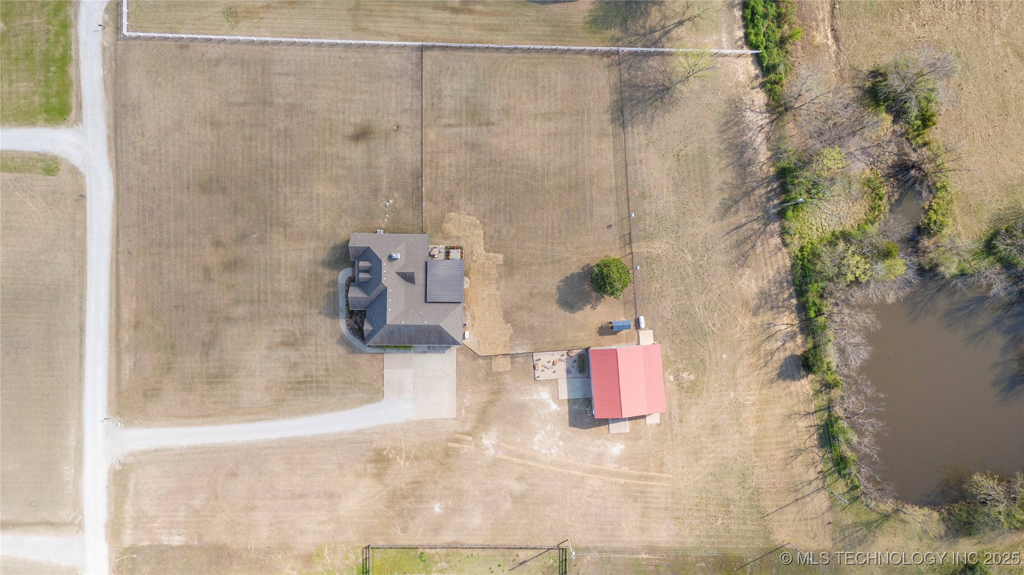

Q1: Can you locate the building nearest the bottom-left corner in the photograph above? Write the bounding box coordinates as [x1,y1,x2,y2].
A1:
[348,233,465,346]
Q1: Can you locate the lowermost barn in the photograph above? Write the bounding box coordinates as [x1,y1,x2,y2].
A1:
[589,344,665,419]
